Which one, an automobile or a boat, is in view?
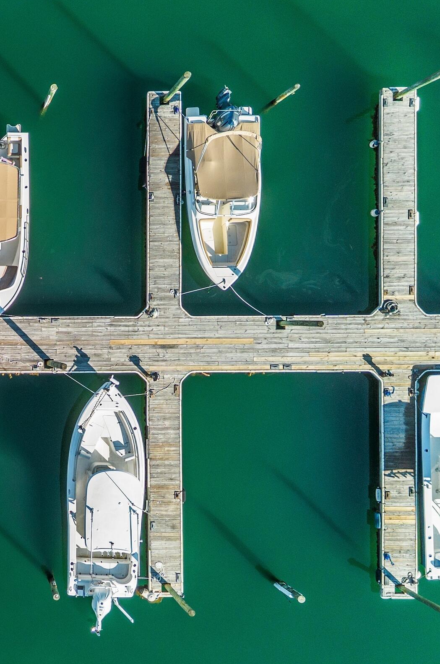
boat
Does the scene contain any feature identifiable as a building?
No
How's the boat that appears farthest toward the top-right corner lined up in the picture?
vertically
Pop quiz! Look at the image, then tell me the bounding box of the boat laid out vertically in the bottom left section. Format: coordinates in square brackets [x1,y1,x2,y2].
[65,375,151,640]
